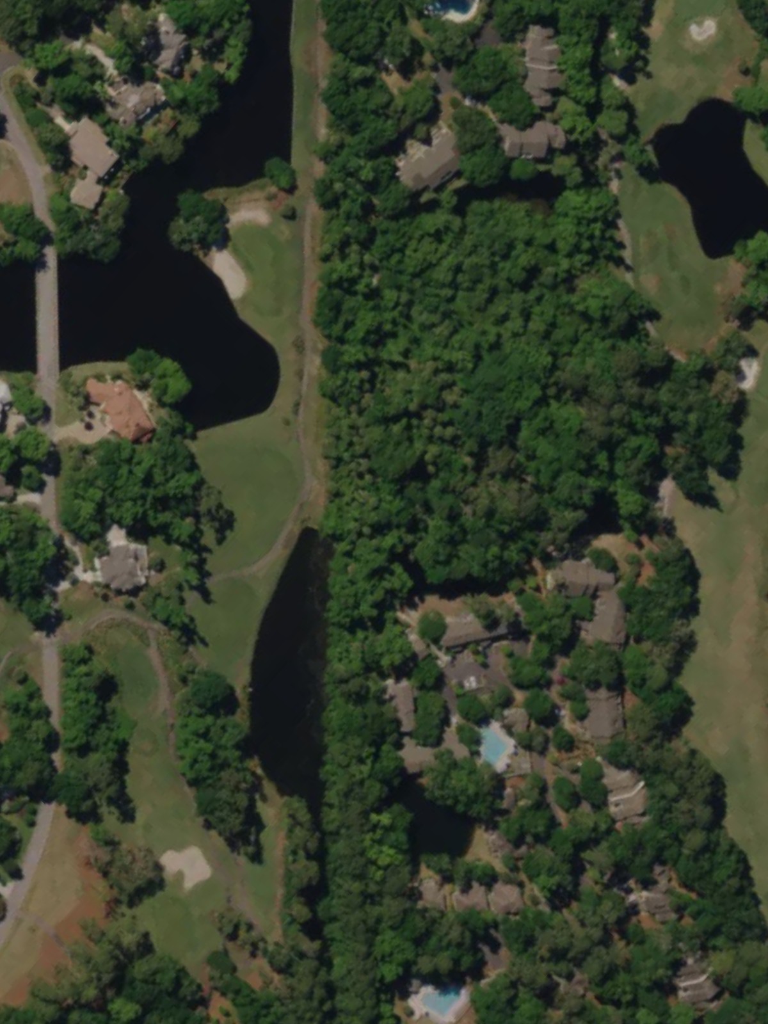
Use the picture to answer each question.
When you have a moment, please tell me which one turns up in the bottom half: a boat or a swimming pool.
swimming pool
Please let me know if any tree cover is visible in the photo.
Yes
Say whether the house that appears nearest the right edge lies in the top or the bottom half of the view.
bottom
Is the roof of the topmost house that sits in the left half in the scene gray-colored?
Yes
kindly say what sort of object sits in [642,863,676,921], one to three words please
house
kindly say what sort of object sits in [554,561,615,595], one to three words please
house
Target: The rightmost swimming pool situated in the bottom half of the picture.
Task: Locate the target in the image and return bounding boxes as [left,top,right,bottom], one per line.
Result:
[478,718,516,772]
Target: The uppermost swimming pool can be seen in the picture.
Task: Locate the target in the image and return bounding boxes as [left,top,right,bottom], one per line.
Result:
[428,0,478,21]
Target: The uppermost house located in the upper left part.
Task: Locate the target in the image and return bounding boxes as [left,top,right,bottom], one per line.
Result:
[155,15,188,69]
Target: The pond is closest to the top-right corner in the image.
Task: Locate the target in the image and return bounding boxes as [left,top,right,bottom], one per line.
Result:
[653,98,768,258]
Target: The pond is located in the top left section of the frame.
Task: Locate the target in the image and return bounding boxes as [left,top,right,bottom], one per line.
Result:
[0,0,292,430]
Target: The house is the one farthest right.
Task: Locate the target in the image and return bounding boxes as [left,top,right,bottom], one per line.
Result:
[677,960,720,1010]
